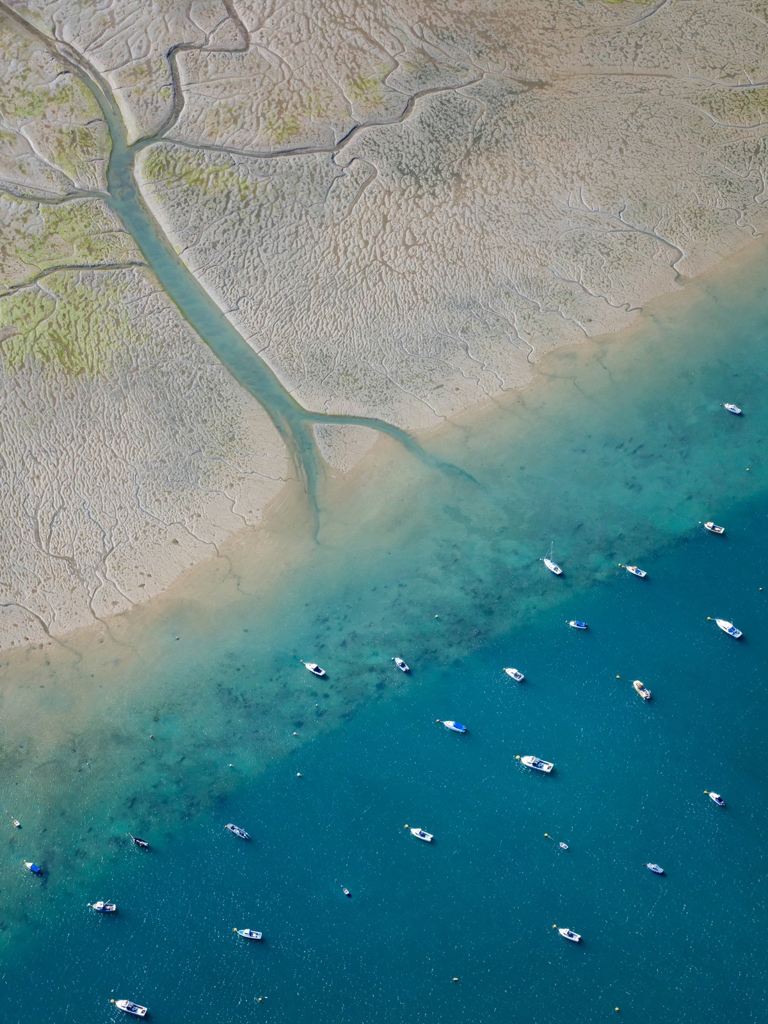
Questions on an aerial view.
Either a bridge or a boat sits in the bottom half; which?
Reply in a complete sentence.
What appears in the bottom half is a boat.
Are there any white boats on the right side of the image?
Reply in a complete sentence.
Yes, a white boat appears on the right side of the image.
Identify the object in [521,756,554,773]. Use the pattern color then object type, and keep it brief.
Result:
white boat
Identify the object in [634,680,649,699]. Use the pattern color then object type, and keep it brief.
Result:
white boat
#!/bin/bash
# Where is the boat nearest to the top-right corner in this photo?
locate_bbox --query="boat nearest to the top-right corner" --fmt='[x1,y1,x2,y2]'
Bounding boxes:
[724,403,741,415]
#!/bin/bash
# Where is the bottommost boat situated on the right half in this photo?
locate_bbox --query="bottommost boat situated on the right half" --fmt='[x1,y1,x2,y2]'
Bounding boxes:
[558,928,582,943]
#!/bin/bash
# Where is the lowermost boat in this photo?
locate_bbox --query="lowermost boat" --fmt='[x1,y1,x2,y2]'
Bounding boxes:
[115,999,149,1017]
